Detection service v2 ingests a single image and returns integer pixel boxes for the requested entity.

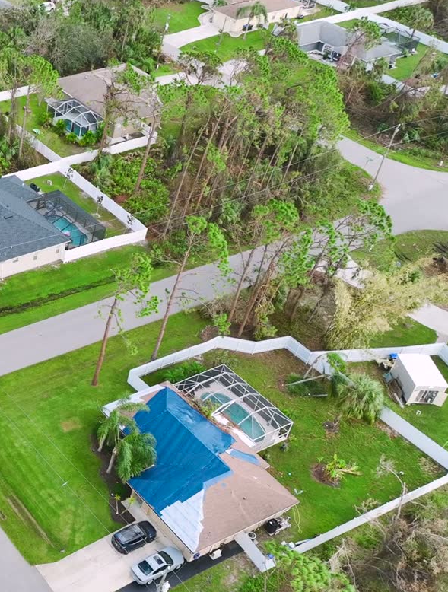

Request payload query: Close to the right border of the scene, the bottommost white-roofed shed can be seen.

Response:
[385,352,448,408]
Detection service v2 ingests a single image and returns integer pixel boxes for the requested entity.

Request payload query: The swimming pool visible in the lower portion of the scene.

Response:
[184,380,283,454]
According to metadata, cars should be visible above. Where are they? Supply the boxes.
[124,549,188,585]
[102,519,160,558]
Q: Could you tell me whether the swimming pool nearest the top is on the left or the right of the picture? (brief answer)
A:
left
